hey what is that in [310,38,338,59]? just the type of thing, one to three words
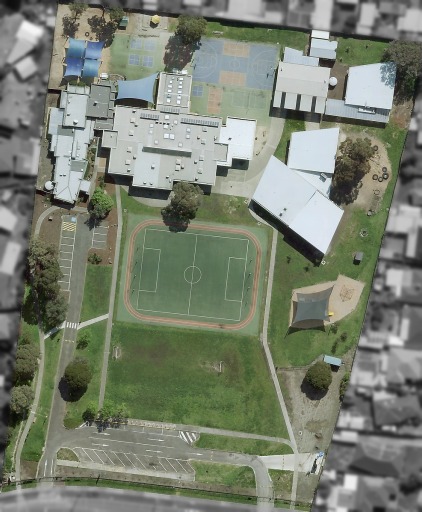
shed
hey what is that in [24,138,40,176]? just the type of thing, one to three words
house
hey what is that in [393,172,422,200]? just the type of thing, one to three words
house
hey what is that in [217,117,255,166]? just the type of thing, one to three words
building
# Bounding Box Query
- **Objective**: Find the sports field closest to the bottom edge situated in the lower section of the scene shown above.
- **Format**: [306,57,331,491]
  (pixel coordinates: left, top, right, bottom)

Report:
[106,323,287,430]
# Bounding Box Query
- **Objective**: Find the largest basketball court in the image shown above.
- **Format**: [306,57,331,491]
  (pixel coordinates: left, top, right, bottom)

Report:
[192,40,280,90]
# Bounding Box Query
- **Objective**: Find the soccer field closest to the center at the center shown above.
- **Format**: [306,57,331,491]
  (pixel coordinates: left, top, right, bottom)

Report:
[128,226,256,324]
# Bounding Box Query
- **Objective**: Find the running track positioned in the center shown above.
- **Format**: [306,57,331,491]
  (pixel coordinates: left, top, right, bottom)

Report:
[116,214,270,336]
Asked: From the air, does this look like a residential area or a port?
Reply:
residential area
